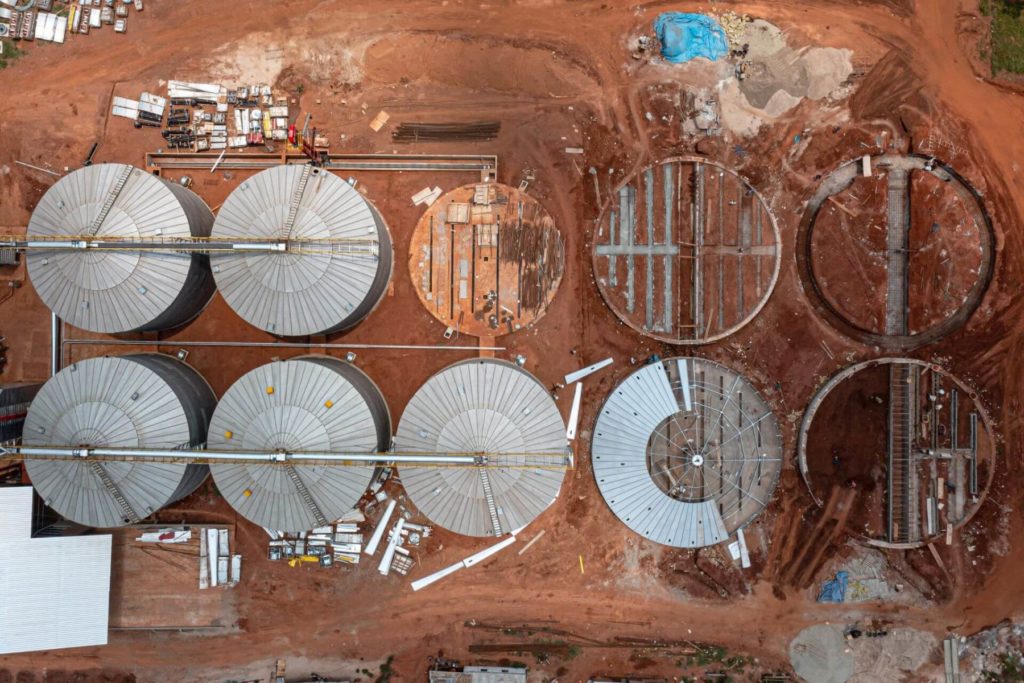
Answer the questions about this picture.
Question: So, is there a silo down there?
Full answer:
Yes, looking at the shot, I can spot a silo.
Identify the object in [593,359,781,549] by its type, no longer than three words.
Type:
silo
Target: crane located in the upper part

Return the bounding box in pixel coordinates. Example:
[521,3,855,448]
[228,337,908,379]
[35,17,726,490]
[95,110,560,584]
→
[285,113,333,167]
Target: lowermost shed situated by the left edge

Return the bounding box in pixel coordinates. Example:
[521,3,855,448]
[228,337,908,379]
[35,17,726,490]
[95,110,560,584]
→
[0,473,113,653]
